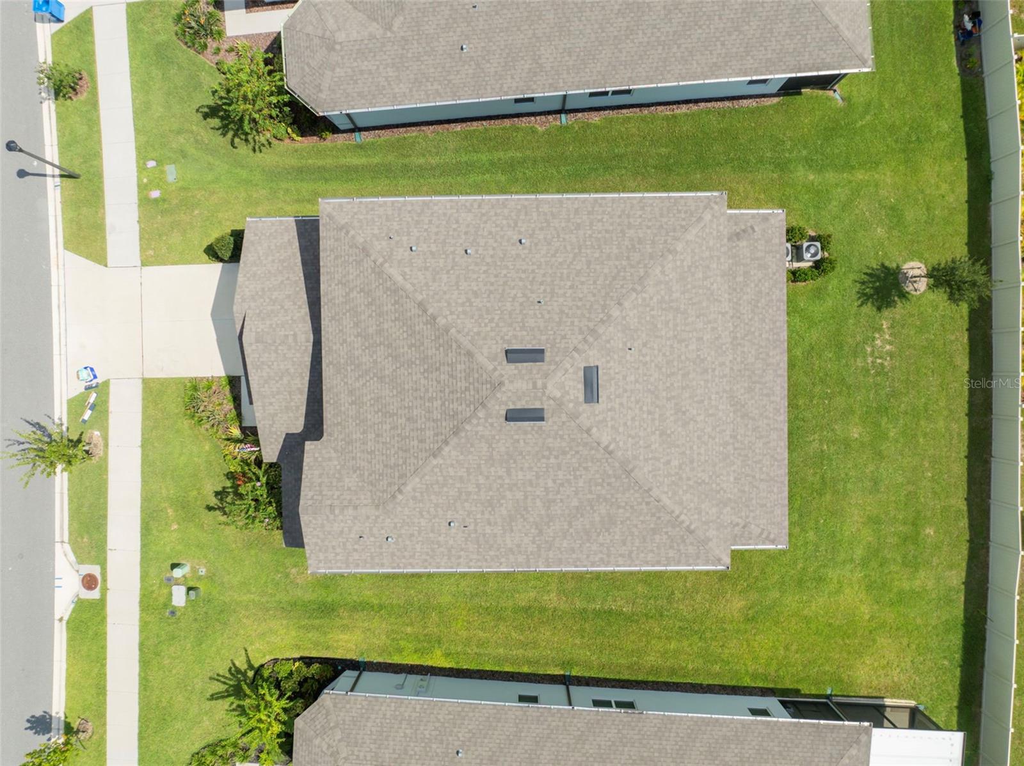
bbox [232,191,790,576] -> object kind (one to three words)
house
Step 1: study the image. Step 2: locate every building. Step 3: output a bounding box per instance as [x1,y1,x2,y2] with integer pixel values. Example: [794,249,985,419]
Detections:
[291,667,966,766]
[232,191,790,576]
[277,0,876,133]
